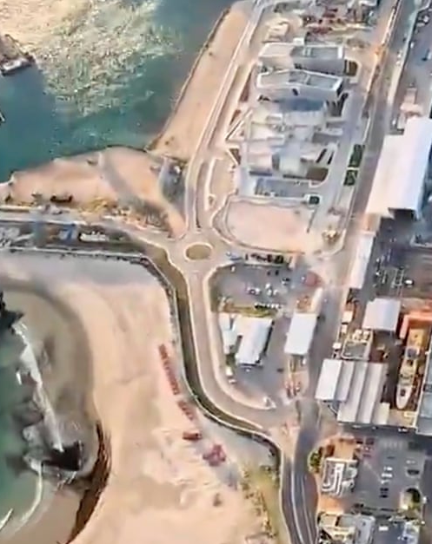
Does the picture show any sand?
Yes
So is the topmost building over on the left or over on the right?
right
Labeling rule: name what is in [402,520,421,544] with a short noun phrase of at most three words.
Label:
shed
